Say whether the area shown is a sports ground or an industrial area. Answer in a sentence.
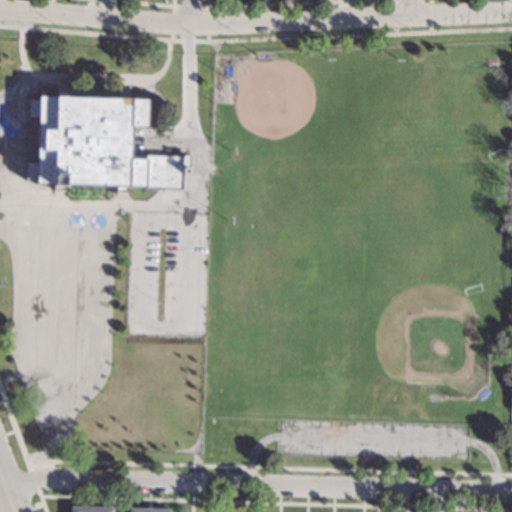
It's a sports ground.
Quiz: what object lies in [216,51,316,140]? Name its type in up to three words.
baseball field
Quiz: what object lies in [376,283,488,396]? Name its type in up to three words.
baseball field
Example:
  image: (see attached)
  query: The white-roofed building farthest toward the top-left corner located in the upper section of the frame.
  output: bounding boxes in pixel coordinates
[38,94,191,191]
